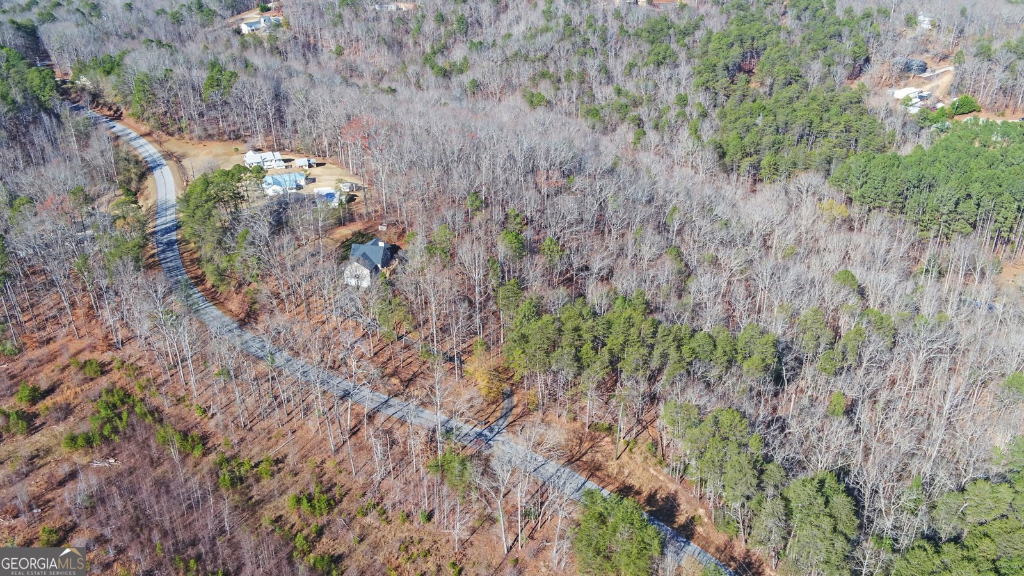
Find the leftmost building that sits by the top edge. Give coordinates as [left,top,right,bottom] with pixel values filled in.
[237,17,273,33]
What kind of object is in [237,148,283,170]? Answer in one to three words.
house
